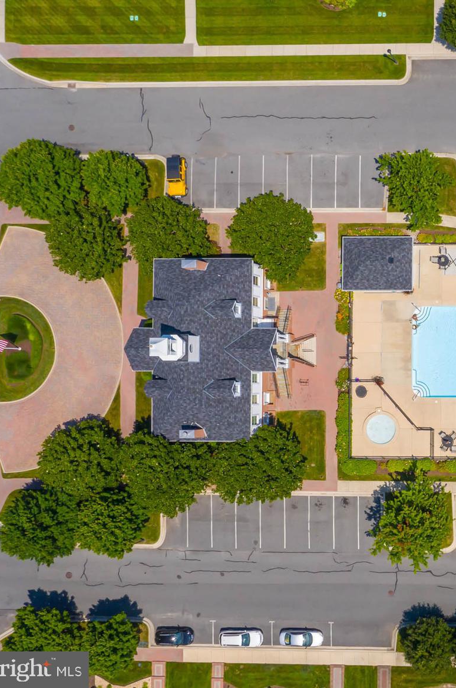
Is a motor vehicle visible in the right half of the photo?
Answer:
Yes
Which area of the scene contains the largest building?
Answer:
center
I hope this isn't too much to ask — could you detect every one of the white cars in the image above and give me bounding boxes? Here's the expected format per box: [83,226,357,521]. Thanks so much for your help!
[219,627,263,649]
[279,628,324,649]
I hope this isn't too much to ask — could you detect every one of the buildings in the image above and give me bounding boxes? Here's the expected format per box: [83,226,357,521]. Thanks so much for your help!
[342,236,416,293]
[123,257,319,443]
